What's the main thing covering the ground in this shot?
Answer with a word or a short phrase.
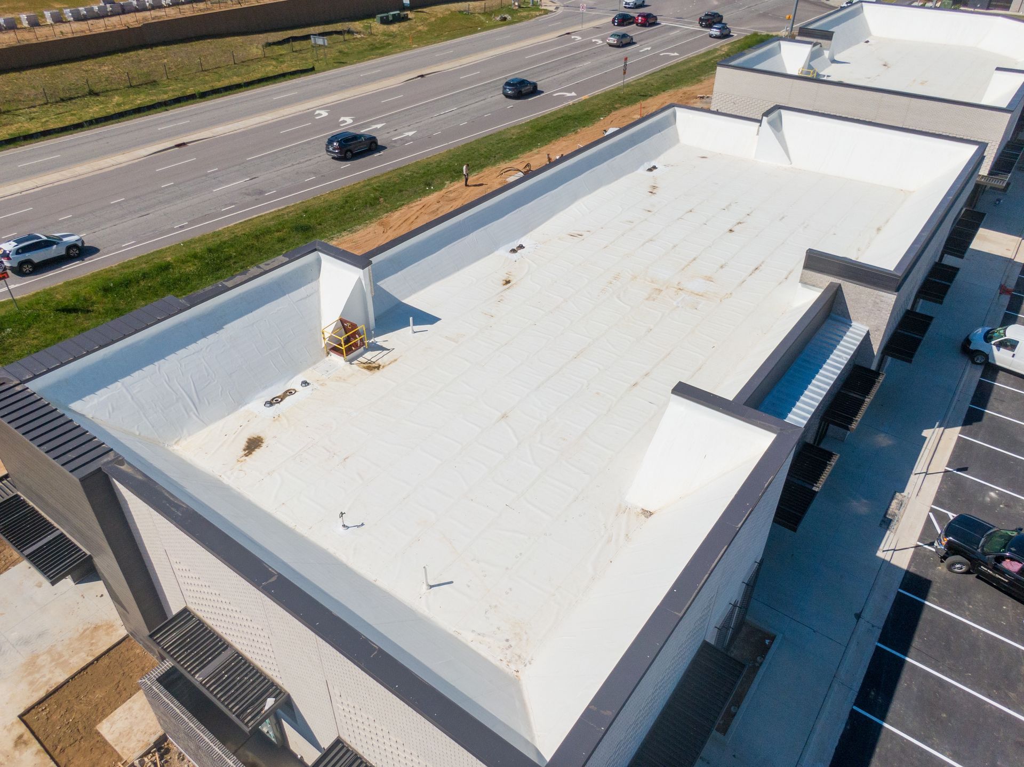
buildings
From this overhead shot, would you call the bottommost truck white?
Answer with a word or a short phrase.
No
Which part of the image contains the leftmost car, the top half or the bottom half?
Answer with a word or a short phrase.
top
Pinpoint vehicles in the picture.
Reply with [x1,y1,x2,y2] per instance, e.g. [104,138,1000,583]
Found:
[501,77,538,98]
[932,512,1024,594]
[710,22,731,37]
[636,13,659,27]
[958,324,1024,376]
[324,130,380,158]
[607,32,634,46]
[623,0,646,8]
[0,233,86,273]
[697,10,724,26]
[611,13,636,26]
